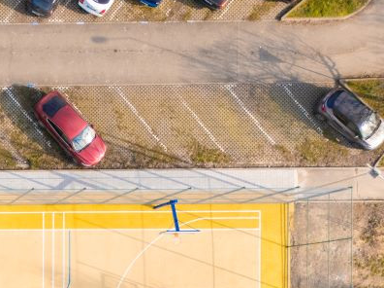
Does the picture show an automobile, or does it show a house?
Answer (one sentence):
I can see an automobile in this picture.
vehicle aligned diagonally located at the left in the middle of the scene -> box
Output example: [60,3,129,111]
[41,90,110,167]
